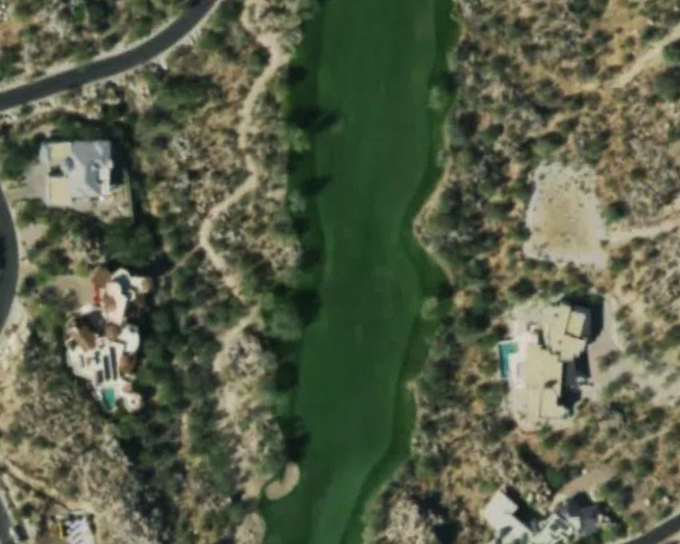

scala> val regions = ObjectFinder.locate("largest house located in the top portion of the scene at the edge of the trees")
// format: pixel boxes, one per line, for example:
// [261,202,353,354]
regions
[39,141,134,219]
